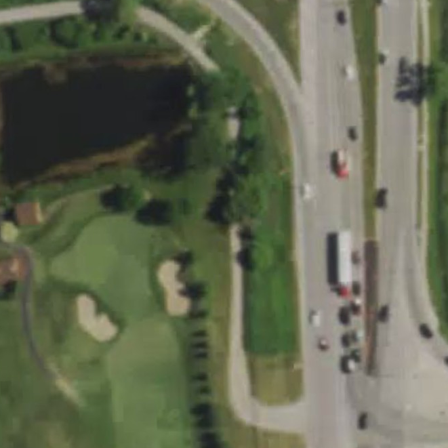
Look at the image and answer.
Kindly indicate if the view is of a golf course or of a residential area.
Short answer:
golf course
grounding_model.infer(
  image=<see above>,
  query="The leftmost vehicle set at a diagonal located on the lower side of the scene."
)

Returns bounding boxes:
[419,322,433,339]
